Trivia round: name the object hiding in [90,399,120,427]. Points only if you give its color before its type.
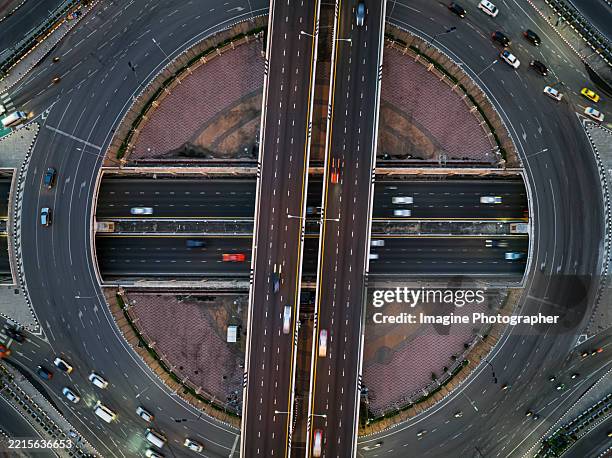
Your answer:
white vehicle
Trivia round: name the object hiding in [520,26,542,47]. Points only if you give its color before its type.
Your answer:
black car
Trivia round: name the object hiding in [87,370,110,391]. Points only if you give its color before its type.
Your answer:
white car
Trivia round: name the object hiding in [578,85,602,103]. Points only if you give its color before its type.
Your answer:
yellow car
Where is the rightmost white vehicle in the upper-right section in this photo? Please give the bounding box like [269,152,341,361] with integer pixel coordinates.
[582,105,605,123]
